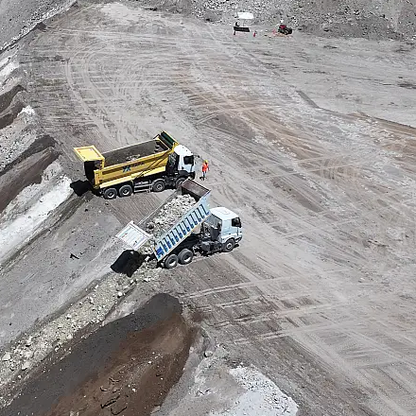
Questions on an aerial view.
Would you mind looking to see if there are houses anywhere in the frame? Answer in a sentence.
No, I can see no house in this picture.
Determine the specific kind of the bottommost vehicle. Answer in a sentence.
It turns out the bottommost vehicle is a truck.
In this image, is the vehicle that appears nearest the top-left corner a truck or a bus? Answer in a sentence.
The vehicle that appears nearest the top-left corner in the image is a truck.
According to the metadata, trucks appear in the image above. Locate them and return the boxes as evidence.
[116,181,252,268]
[66,131,200,199]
